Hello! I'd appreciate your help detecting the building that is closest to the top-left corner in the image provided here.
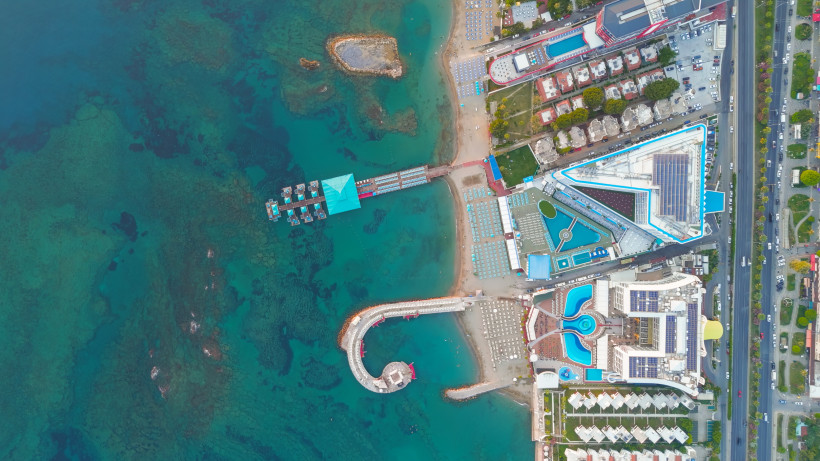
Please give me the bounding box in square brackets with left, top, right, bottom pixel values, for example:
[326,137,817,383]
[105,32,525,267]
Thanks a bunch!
[322,174,361,215]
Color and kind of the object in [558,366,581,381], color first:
blue swimming pool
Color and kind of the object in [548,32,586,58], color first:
blue swimming pool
